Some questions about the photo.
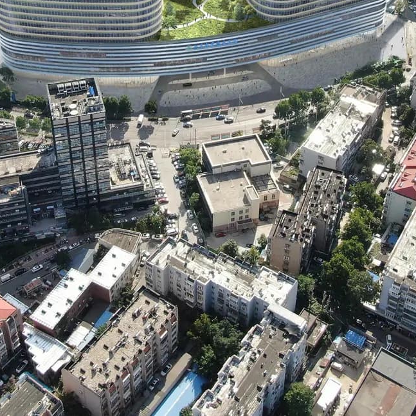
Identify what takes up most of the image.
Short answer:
buildings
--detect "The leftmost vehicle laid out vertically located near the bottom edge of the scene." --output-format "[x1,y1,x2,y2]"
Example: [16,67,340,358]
[325,373,340,408]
